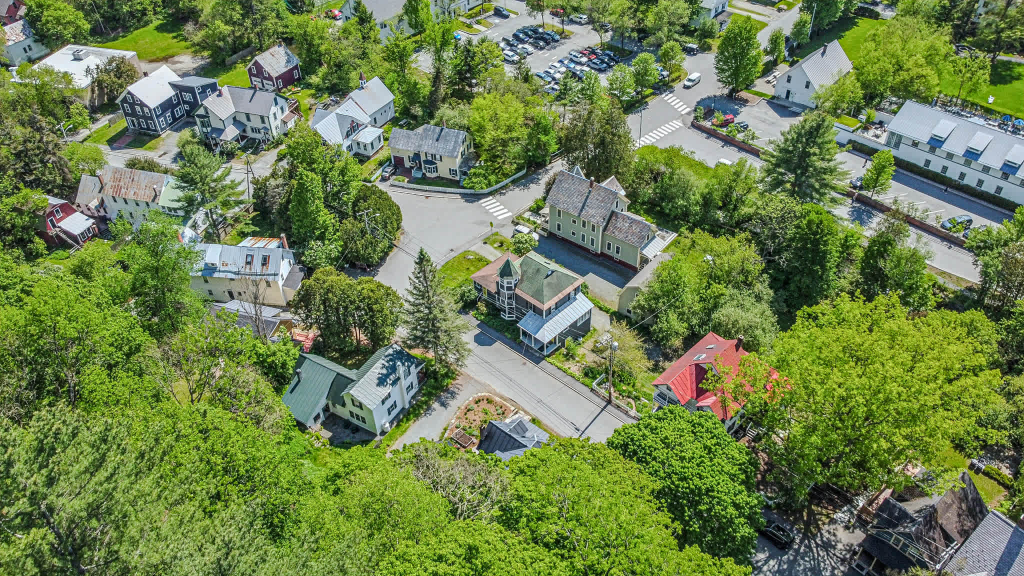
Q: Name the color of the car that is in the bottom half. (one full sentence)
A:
The color of the car that is in the bottom half is black.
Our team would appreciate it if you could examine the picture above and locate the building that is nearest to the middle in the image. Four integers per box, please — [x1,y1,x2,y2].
[465,248,600,359]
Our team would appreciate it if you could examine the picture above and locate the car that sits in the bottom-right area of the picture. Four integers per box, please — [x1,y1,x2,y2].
[756,513,801,552]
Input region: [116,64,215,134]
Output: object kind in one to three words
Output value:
house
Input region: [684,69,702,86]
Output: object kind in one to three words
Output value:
vehicle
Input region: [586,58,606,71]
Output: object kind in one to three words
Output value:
vehicle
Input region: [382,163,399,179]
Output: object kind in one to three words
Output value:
car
